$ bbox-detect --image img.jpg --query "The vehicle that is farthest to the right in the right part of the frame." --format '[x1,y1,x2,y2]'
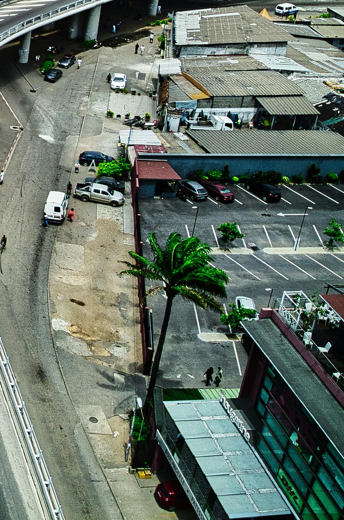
[272,2,303,16]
